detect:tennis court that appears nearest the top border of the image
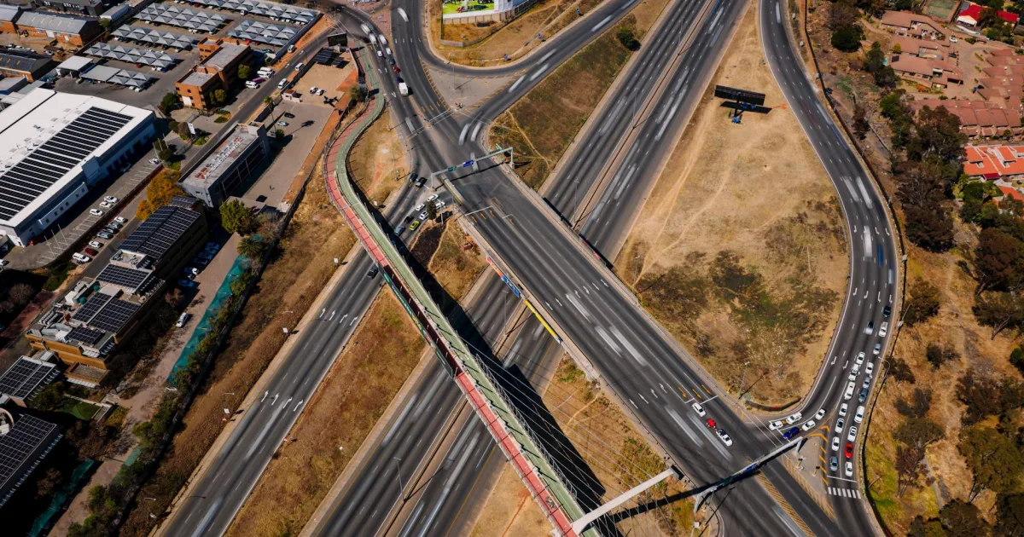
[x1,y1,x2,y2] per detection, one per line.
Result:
[922,0,960,22]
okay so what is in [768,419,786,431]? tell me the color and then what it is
white vehicle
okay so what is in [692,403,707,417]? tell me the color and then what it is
white car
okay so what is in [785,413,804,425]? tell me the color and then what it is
white vehicle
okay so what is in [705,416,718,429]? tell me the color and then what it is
red vehicle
